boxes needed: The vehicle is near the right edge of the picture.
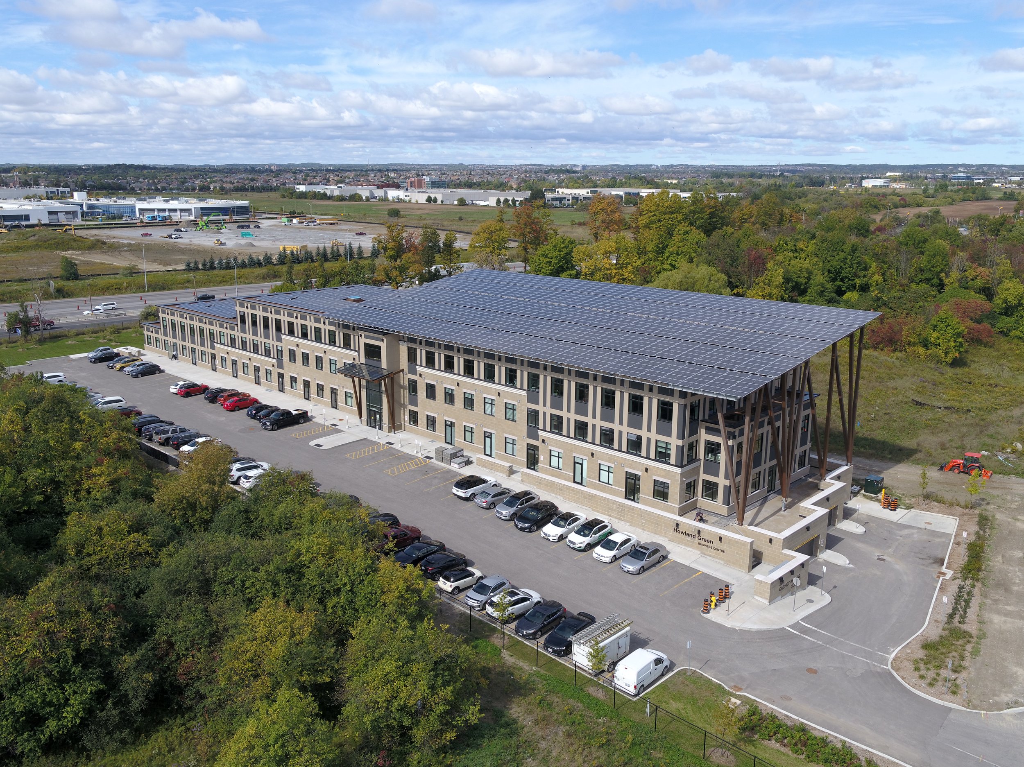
[937,452,991,478]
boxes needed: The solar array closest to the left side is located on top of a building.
[175,299,237,319]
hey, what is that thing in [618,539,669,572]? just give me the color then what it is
gray car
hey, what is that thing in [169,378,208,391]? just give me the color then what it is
white vehicle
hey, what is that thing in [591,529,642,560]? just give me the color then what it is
white car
